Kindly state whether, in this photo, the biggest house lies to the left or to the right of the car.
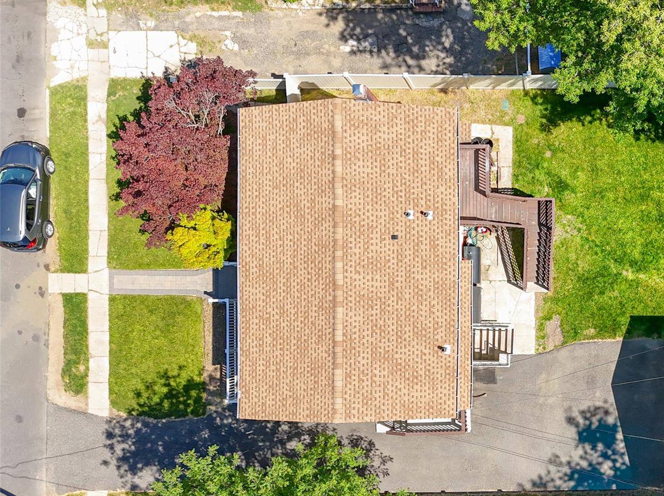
to the right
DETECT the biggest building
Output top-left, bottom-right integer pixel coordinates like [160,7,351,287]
[234,84,476,424]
